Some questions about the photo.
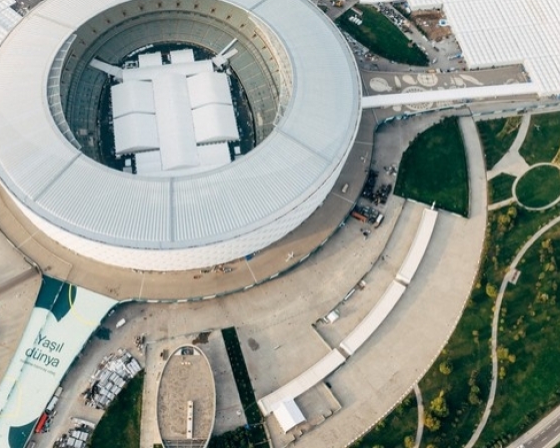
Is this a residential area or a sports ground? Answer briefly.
sports ground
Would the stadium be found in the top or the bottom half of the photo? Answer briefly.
top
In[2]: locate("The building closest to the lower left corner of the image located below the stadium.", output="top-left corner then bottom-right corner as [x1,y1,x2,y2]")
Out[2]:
[155,343,218,448]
